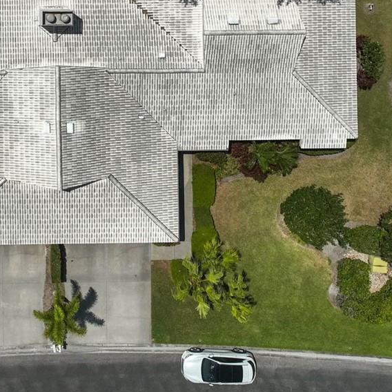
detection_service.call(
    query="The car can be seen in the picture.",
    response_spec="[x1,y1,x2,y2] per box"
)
[178,343,260,388]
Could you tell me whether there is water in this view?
No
